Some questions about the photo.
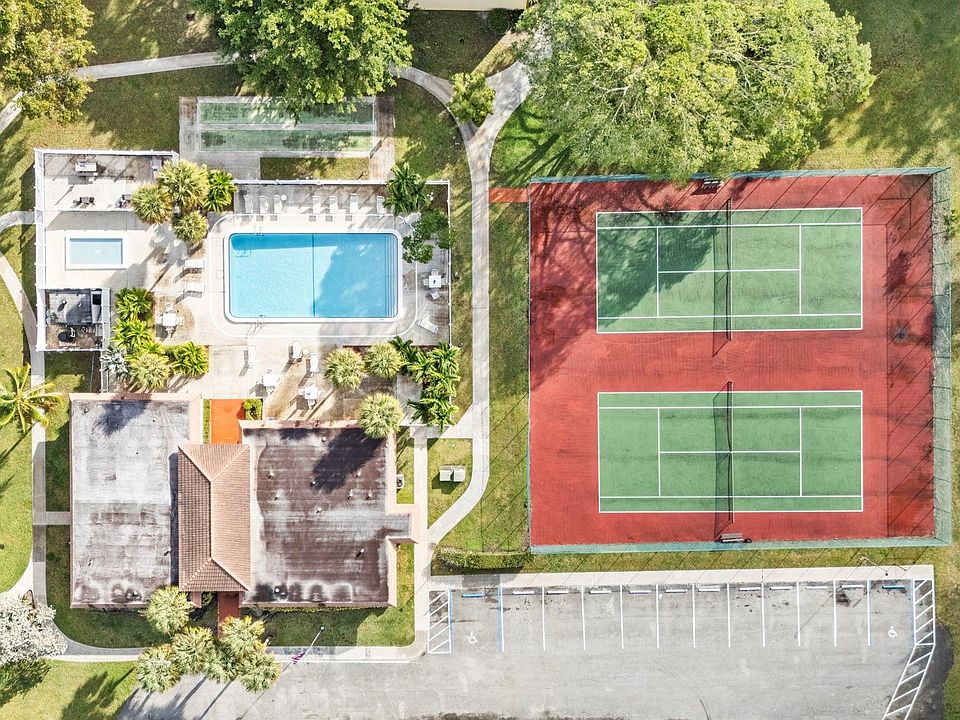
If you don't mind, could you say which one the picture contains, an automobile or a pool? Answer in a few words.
pool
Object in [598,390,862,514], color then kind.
green tennis court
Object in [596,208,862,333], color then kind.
green tennis court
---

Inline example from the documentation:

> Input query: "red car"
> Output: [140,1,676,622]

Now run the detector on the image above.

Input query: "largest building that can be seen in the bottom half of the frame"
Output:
[69,393,419,609]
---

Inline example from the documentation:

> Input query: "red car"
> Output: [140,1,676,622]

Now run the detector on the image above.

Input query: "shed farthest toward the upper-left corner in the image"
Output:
[48,292,94,325]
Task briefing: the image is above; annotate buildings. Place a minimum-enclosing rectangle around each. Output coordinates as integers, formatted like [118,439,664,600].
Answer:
[69,393,419,609]
[411,0,526,16]
[48,292,94,325]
